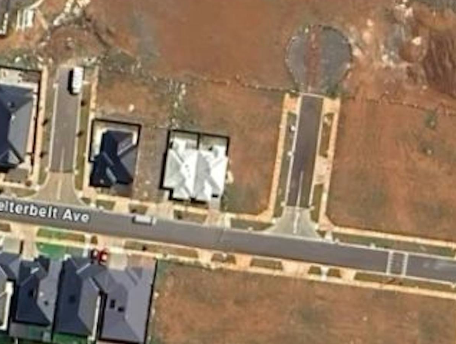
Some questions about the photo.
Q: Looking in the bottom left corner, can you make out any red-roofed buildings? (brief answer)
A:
No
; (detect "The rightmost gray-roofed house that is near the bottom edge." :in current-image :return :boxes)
[99,267,150,344]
